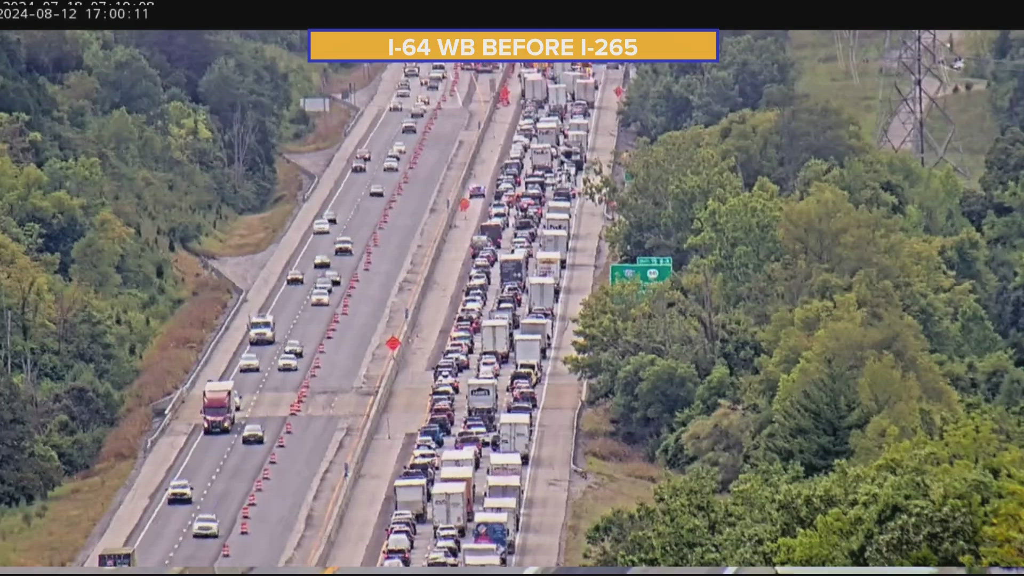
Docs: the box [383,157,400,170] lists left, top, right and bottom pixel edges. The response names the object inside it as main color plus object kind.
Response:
white vehicle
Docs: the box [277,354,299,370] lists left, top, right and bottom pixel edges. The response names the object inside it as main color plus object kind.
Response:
white car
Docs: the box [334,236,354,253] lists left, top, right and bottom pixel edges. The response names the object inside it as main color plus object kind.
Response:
white vehicle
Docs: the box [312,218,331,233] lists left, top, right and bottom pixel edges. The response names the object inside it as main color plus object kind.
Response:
white car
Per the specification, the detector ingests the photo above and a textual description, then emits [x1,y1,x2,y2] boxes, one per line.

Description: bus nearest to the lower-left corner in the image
[96,546,136,576]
